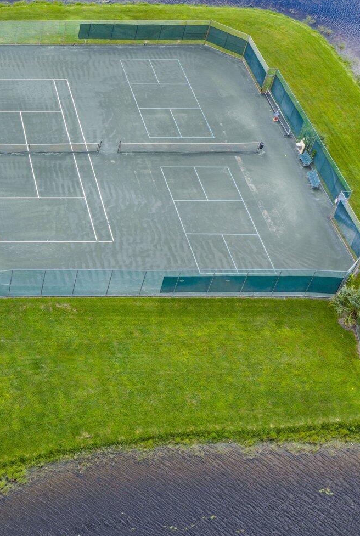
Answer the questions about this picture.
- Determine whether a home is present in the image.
No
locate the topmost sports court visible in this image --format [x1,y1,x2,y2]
[86,44,300,153]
